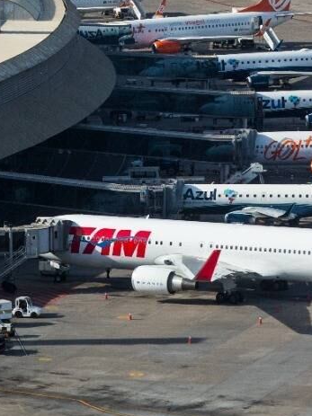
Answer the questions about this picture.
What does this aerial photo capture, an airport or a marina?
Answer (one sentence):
The picture captures an airport.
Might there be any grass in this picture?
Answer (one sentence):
No, grass can't be seen anywhere here.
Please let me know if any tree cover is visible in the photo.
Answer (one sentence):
No, there's no tree cover in this view.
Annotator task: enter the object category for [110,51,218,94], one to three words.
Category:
jet bridge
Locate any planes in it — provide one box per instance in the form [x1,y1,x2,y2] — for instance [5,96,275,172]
[204,39,312,88]
[249,84,312,124]
[146,174,312,225]
[229,127,312,174]
[57,210,312,306]
[89,0,312,53]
